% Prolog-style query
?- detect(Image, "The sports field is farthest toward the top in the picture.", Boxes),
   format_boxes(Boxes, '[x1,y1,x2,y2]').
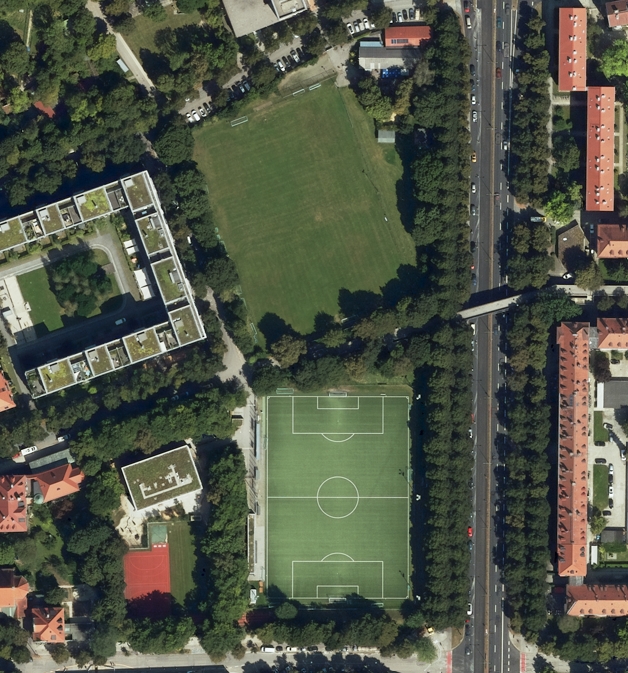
[186,79,420,350]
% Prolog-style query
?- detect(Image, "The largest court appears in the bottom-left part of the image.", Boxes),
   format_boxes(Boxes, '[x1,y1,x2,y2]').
[124,544,170,625]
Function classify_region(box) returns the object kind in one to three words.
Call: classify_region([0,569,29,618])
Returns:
house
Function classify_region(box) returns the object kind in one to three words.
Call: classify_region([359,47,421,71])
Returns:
shed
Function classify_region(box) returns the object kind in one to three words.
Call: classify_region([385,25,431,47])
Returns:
building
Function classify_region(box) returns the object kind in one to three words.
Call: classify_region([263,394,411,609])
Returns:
soccer field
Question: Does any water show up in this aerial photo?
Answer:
No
